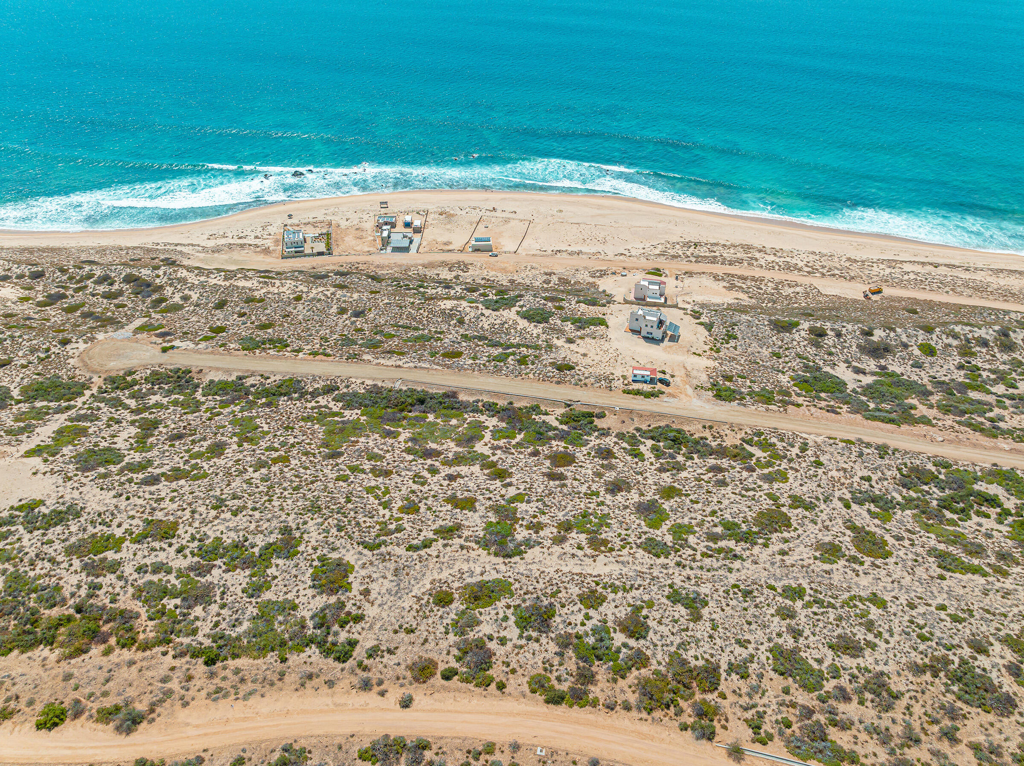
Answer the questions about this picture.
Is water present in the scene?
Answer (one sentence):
Yes, water can be seen from above here.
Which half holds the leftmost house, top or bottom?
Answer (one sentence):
The leftmost house sits in the top half of the picture.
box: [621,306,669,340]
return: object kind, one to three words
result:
house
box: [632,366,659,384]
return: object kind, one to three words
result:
building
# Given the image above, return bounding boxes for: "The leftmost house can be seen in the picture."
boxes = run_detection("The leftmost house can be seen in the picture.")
[285,230,309,254]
